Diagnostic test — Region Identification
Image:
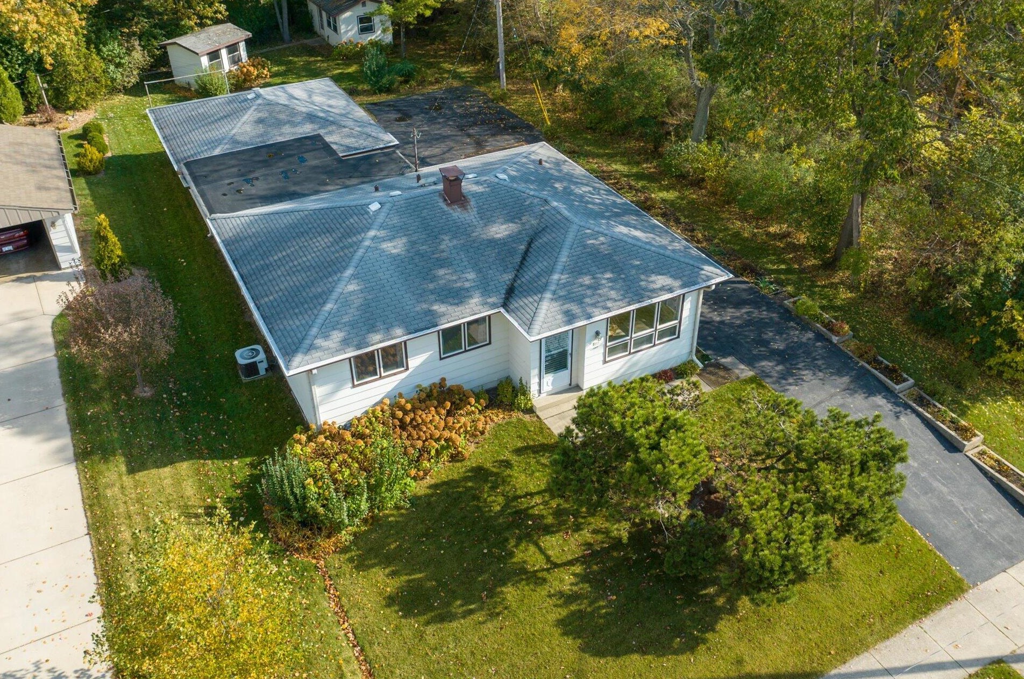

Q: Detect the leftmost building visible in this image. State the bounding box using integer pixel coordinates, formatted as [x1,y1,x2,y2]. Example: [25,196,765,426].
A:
[0,123,83,283]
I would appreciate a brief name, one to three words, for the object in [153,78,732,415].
house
